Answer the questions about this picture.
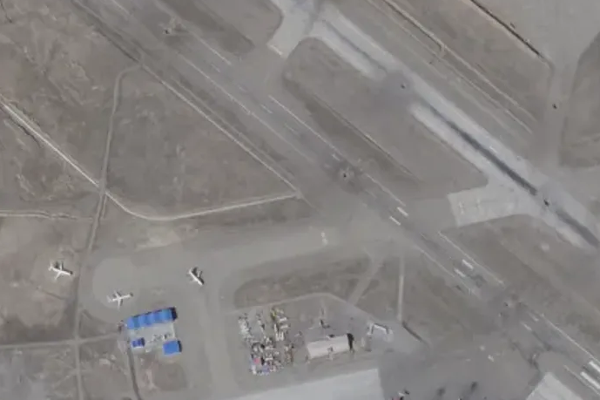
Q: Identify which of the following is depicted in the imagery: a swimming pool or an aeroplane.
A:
aeroplane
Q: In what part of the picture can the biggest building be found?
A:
bottom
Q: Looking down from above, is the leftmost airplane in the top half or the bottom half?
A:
bottom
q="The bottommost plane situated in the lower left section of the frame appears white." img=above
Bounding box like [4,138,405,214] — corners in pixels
[106,289,133,311]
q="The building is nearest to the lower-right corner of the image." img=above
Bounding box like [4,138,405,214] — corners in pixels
[307,335,351,360]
